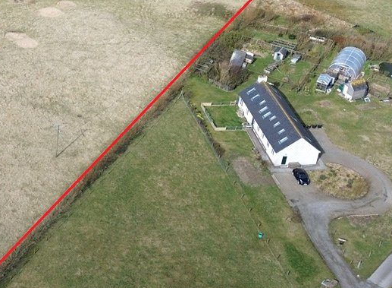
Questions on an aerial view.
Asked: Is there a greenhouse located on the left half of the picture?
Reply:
No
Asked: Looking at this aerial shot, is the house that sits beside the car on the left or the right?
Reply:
right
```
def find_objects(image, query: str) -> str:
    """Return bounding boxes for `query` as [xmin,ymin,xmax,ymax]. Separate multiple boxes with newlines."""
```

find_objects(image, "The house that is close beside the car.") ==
[239,77,321,171]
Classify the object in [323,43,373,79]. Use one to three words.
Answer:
greenhouse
